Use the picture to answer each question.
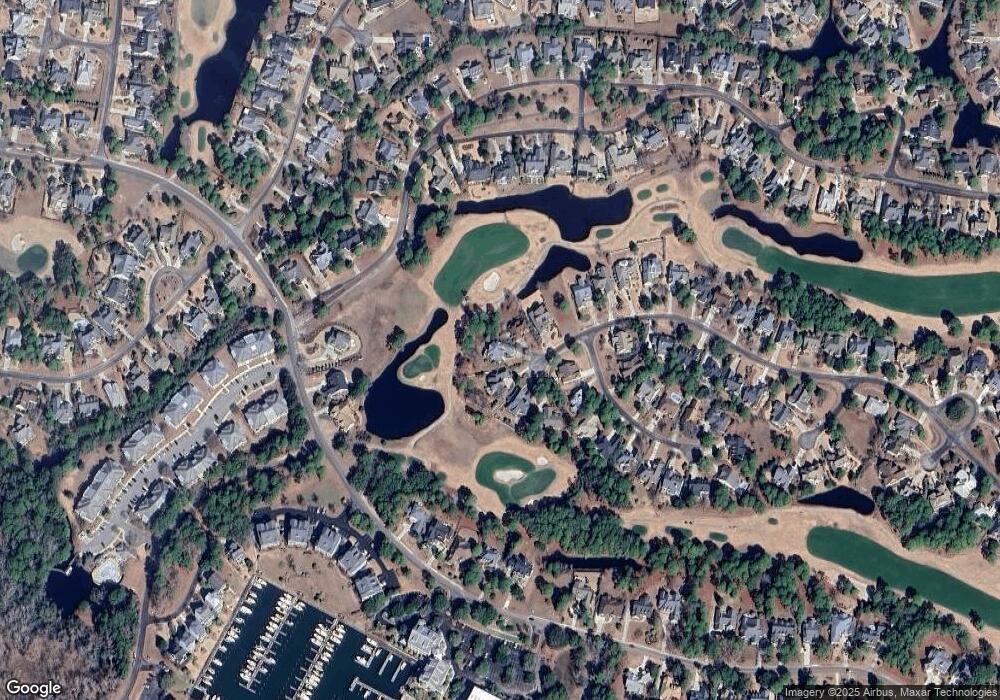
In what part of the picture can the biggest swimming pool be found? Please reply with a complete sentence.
You can find the biggest swimming pool in the bottom left area of the picture.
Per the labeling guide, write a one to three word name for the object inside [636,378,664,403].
house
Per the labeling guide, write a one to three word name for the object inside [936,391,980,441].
roundabout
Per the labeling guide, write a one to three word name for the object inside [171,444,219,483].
building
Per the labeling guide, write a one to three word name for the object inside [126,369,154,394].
house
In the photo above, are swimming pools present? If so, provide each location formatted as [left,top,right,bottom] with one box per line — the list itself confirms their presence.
[669,391,684,404]
[423,33,432,49]
[95,558,119,581]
